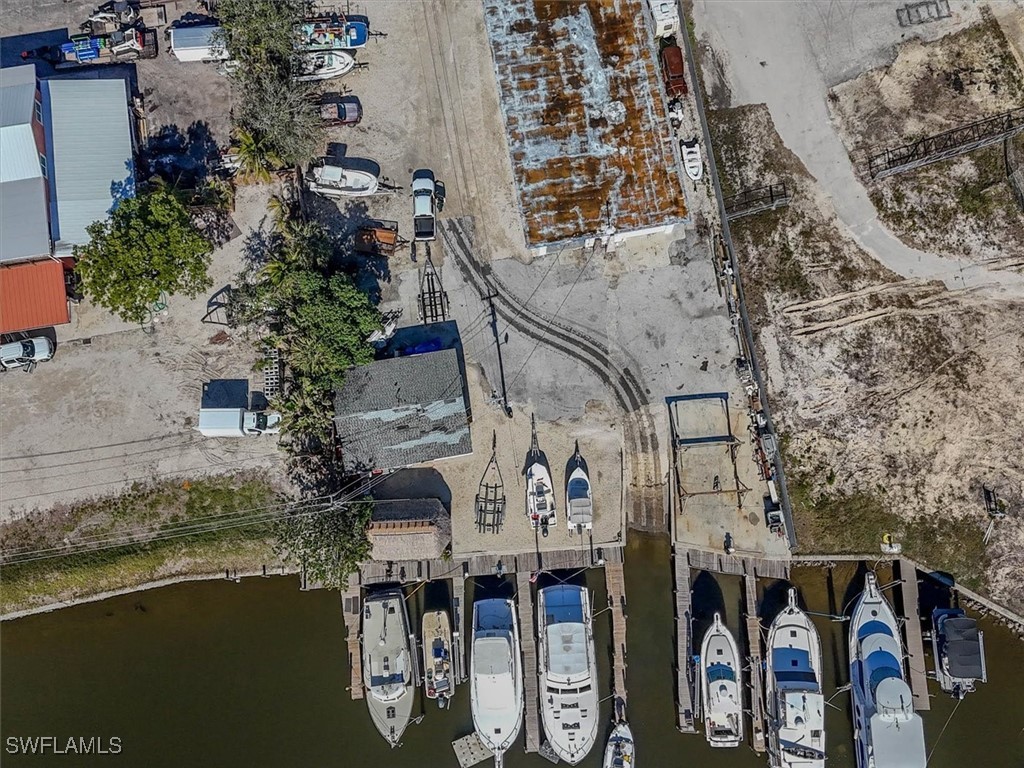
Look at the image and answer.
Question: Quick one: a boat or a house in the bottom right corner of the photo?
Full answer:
The feature located in the bottom right corner of the photo is a boat.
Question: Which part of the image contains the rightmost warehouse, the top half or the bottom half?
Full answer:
The top half of the photo is where the rightmost warehouse is.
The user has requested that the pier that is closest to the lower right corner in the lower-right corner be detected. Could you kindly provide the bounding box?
[894,558,935,710]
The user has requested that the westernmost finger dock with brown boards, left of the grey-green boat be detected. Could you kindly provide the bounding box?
[341,582,364,699]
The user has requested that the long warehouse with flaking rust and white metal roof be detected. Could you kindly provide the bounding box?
[487,0,690,263]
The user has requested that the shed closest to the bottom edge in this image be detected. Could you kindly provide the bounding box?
[362,498,453,562]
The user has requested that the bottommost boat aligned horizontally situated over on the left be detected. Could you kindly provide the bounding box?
[305,166,379,200]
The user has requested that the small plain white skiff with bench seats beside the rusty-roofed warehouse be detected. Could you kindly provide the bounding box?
[678,137,701,195]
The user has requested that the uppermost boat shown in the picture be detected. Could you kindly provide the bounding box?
[293,12,369,55]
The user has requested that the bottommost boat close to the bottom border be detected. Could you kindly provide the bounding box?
[603,718,637,768]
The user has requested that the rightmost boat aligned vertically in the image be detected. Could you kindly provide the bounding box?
[928,608,981,765]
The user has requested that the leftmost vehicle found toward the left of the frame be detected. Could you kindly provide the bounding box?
[0,337,61,375]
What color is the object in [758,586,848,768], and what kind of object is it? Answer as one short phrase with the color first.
white boat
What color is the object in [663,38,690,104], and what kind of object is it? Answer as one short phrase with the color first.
red vehicle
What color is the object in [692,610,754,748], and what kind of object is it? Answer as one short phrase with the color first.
white boat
